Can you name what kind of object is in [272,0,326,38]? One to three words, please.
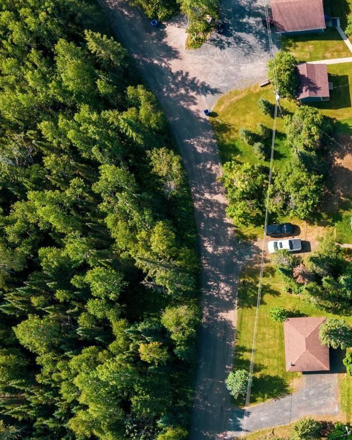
building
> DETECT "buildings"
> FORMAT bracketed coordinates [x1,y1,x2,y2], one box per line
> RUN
[297,61,334,102]
[283,316,329,371]
[272,0,326,38]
